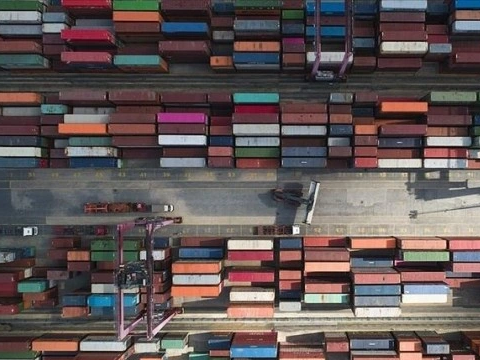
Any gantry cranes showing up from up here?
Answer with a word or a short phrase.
Yes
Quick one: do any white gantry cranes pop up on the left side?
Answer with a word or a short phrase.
No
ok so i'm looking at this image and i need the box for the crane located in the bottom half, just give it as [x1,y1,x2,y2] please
[111,214,188,344]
